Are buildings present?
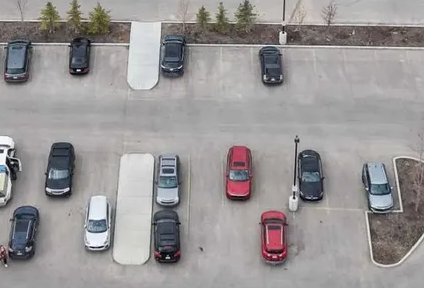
No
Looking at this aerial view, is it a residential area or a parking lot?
parking lot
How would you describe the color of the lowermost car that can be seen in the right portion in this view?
red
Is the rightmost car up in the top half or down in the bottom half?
bottom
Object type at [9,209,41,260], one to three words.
car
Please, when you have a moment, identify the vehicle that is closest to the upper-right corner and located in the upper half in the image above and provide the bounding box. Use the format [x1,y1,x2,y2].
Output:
[258,48,285,88]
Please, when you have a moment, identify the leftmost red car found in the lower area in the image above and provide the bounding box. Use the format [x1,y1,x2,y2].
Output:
[224,149,254,201]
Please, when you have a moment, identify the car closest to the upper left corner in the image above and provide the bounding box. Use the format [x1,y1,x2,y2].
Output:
[4,42,34,84]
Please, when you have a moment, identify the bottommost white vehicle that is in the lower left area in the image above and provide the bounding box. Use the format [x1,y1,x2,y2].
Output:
[83,199,113,250]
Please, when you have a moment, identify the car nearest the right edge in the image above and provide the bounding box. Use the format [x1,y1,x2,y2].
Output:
[362,163,395,215]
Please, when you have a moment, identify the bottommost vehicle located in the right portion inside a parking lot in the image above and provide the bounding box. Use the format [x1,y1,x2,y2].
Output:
[258,214,290,265]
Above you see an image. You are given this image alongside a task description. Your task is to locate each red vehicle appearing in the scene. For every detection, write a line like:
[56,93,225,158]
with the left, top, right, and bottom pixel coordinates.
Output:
[224,149,254,201]
[258,214,290,265]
